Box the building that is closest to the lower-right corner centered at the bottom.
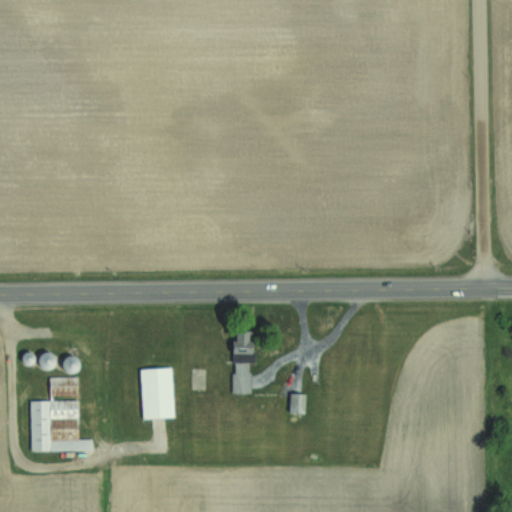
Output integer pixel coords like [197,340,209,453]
[290,394,306,415]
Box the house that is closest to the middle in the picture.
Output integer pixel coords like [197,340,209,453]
[232,332,255,394]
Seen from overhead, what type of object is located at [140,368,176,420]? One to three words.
barn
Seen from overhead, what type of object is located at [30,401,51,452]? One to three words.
shed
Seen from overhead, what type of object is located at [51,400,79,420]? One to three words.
shed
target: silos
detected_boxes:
[62,356,82,375]
[39,353,58,371]
[22,352,36,367]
